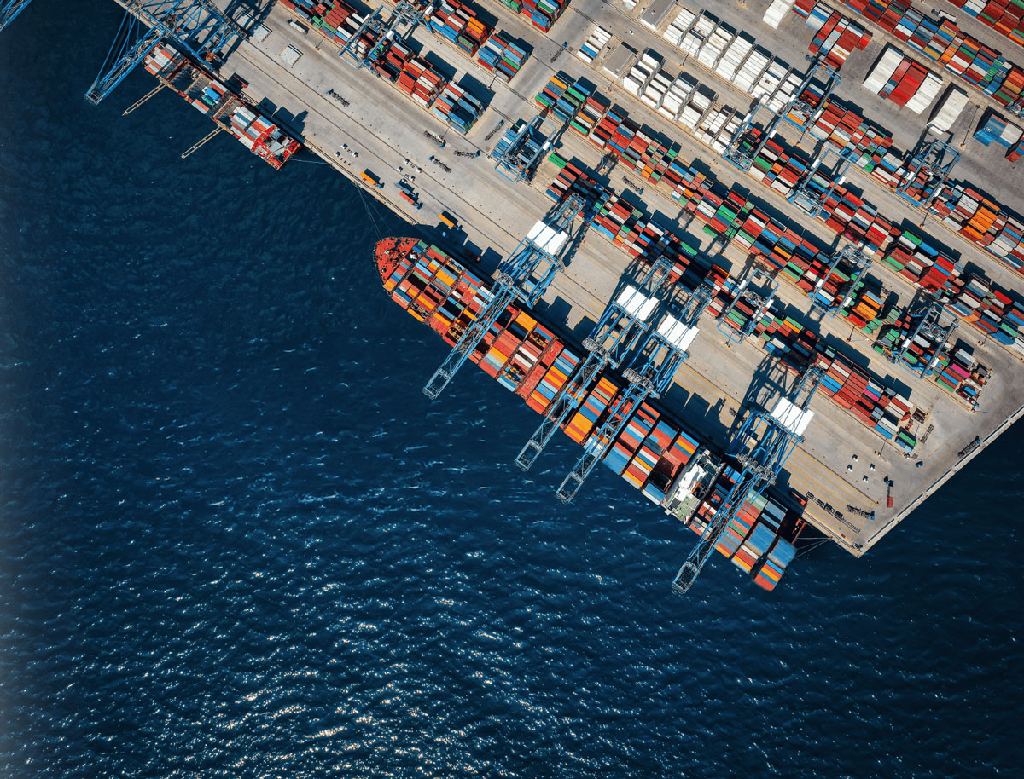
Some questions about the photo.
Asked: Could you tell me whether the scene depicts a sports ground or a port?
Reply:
port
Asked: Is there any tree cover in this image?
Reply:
No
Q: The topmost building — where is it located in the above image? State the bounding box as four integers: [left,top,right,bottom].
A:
[640,0,676,30]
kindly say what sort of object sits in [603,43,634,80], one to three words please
building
